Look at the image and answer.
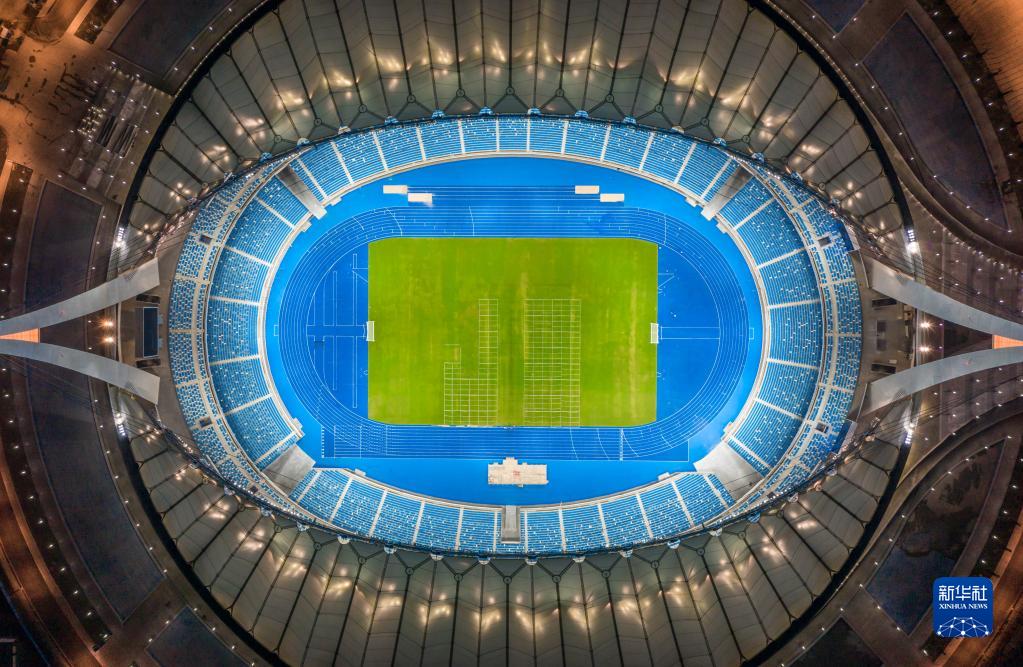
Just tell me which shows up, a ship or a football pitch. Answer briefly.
football pitch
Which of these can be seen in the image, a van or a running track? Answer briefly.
running track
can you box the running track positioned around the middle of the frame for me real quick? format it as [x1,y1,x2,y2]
[267,158,762,505]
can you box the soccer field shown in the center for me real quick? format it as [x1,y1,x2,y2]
[369,238,657,426]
